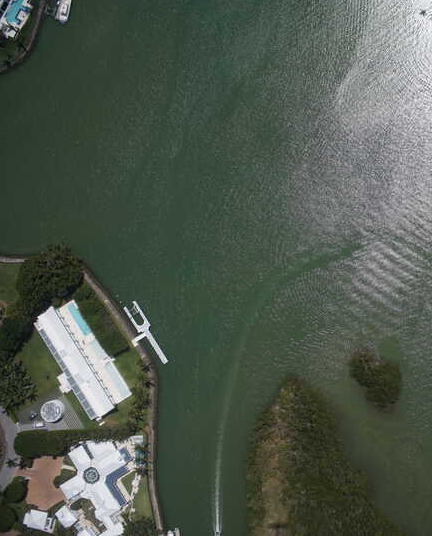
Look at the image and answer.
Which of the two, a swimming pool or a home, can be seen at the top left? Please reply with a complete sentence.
You can see a swimming pool at the top left.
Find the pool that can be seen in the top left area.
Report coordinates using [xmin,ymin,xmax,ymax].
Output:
[5,0,24,24]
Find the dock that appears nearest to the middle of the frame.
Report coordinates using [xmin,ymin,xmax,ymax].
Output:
[124,301,169,363]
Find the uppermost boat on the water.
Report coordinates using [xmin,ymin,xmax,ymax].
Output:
[57,0,69,22]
